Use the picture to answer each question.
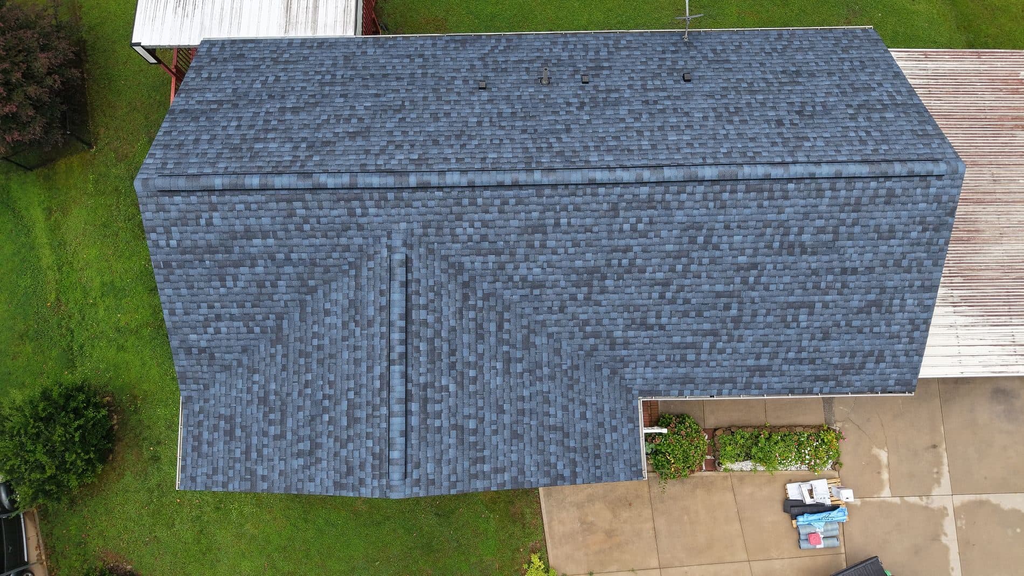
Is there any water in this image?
No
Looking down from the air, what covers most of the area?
buildings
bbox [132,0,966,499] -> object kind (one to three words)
house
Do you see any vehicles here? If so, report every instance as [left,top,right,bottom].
[833,557,887,576]
[0,500,36,576]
